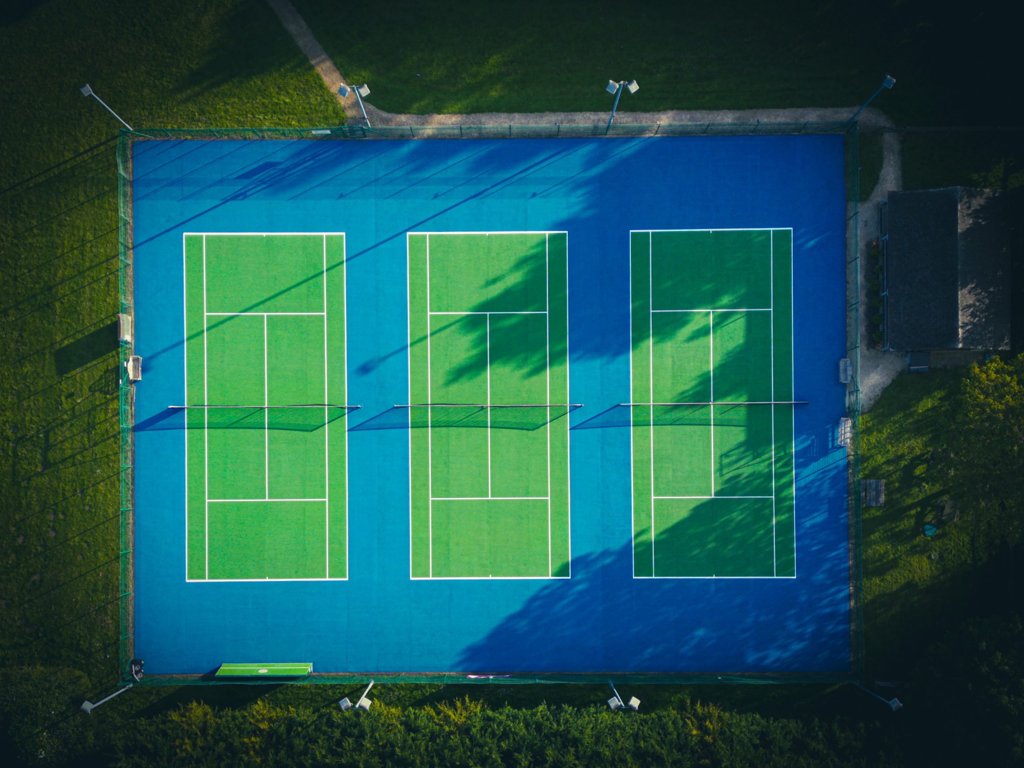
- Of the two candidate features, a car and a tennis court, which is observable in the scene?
tennis court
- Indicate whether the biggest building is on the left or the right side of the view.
right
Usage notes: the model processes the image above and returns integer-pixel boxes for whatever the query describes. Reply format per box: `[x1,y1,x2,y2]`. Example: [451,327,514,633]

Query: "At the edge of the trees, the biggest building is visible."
[879,186,1012,355]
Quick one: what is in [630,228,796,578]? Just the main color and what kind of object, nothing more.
green tennis court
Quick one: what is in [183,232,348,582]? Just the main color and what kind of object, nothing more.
green tennis court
